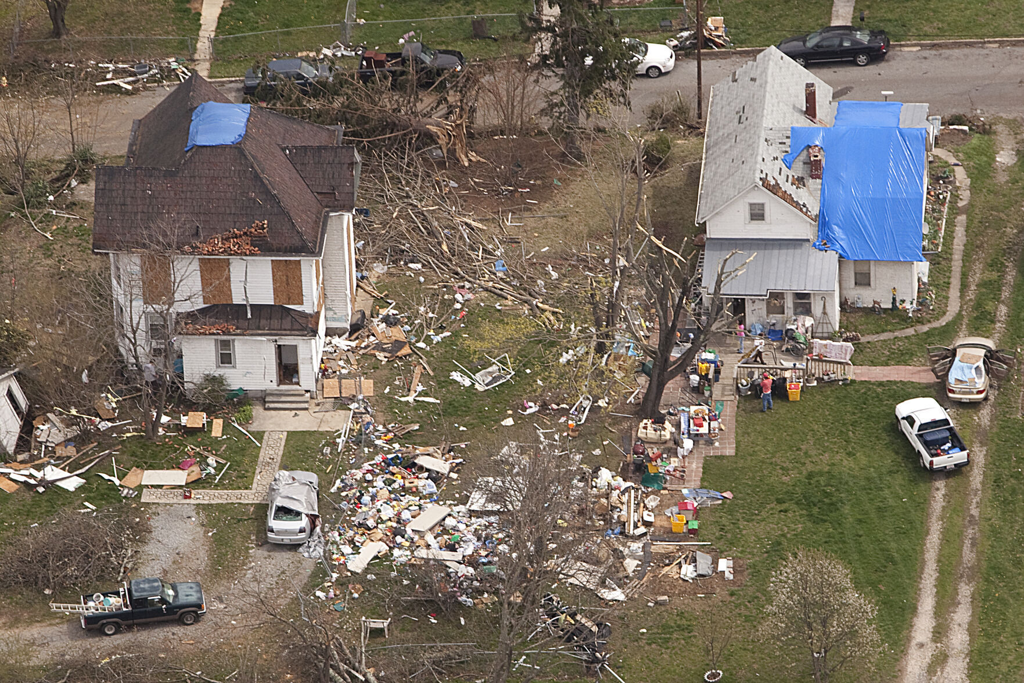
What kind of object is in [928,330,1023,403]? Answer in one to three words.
car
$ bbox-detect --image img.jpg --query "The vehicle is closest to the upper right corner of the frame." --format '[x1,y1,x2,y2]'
[777,23,894,67]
